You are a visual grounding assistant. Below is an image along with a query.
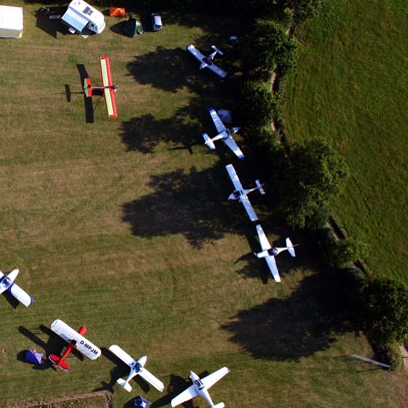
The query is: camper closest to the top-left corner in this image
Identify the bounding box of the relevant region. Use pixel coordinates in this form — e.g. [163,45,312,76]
[59,0,107,40]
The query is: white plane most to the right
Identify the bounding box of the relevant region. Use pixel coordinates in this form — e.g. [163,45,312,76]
[249,222,302,283]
